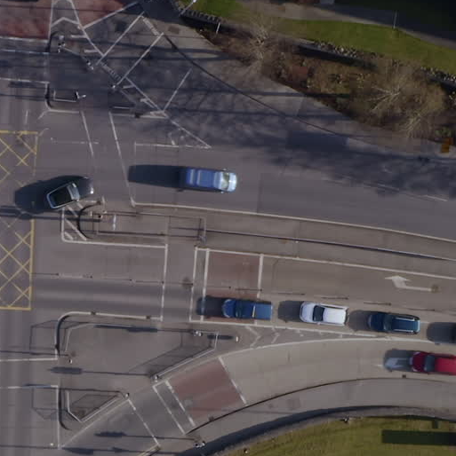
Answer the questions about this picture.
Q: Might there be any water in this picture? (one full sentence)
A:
No, there is no water in the image.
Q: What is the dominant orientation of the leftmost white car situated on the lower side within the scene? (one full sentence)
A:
From this overhead view, the leftmost white car situated on the lower side appears to run horizontally.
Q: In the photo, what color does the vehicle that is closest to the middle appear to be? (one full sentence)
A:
From above, the vehicle that is closest to the middle appears blue.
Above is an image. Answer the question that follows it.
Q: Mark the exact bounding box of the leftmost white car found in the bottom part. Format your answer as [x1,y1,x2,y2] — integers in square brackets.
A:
[298,302,347,325]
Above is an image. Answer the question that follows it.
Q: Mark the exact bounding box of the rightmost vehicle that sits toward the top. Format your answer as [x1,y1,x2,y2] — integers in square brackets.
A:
[180,168,235,192]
